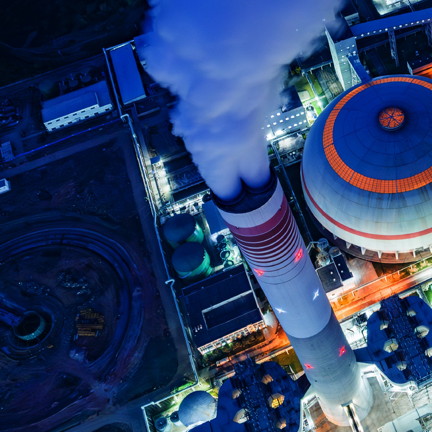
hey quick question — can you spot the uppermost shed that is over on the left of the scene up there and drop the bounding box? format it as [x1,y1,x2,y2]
[134,27,174,65]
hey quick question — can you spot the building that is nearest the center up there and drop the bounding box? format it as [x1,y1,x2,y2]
[202,200,230,238]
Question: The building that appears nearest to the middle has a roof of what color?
blue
